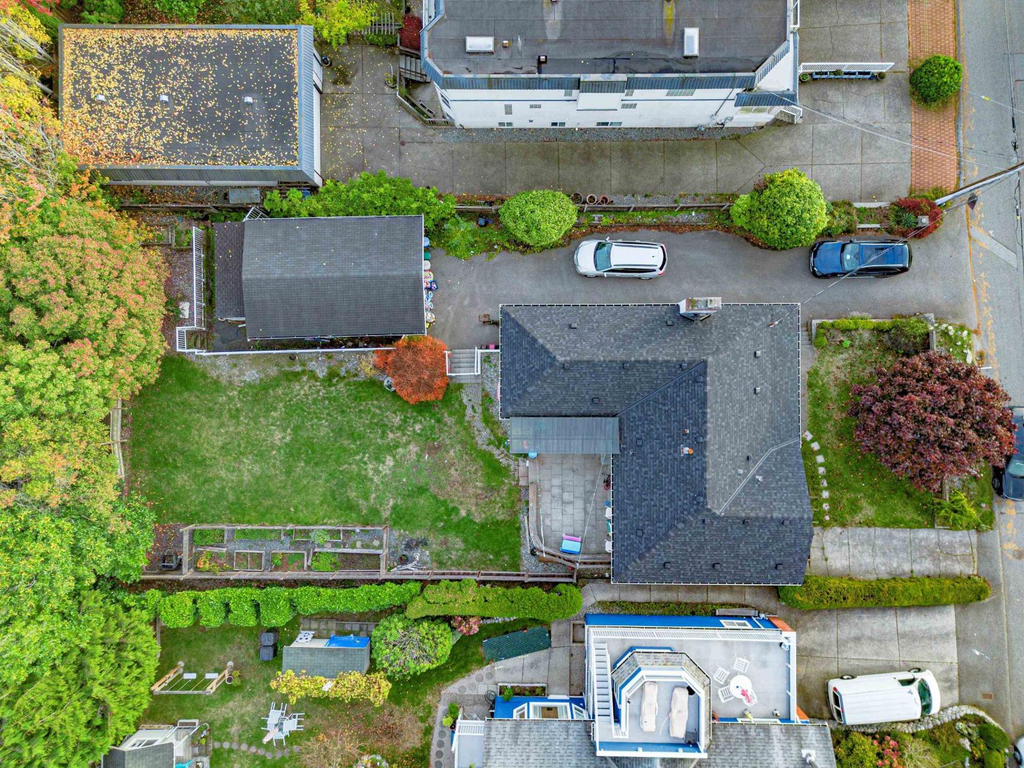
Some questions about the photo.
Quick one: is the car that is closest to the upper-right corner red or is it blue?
blue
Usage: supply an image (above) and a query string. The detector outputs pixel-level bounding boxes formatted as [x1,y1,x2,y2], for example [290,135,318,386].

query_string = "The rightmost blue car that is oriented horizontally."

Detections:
[805,233,914,282]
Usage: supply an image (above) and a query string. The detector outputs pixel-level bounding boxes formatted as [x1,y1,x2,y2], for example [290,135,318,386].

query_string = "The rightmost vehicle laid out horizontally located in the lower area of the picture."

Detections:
[822,666,939,725]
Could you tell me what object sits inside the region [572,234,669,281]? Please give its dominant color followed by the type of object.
white car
